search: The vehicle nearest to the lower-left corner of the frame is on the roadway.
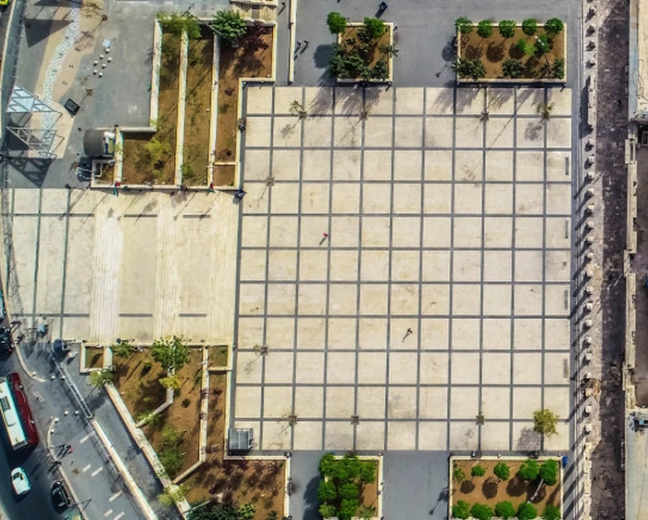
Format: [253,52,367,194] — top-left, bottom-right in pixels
[13,467,32,495]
